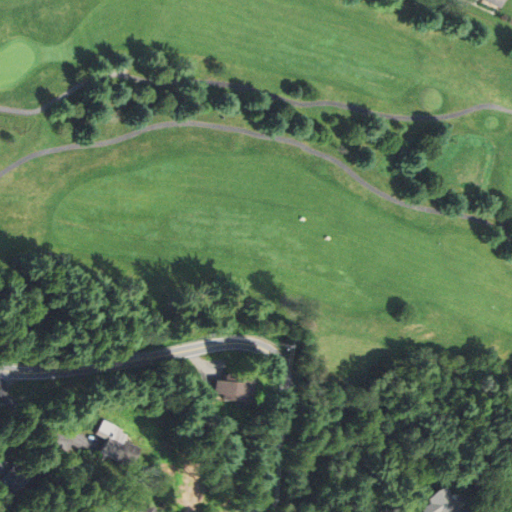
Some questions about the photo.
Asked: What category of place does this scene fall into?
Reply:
golf course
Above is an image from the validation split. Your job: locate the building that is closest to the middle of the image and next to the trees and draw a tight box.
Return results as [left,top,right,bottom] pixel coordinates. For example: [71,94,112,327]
[217,377,247,406]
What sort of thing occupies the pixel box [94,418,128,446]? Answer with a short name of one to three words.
house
